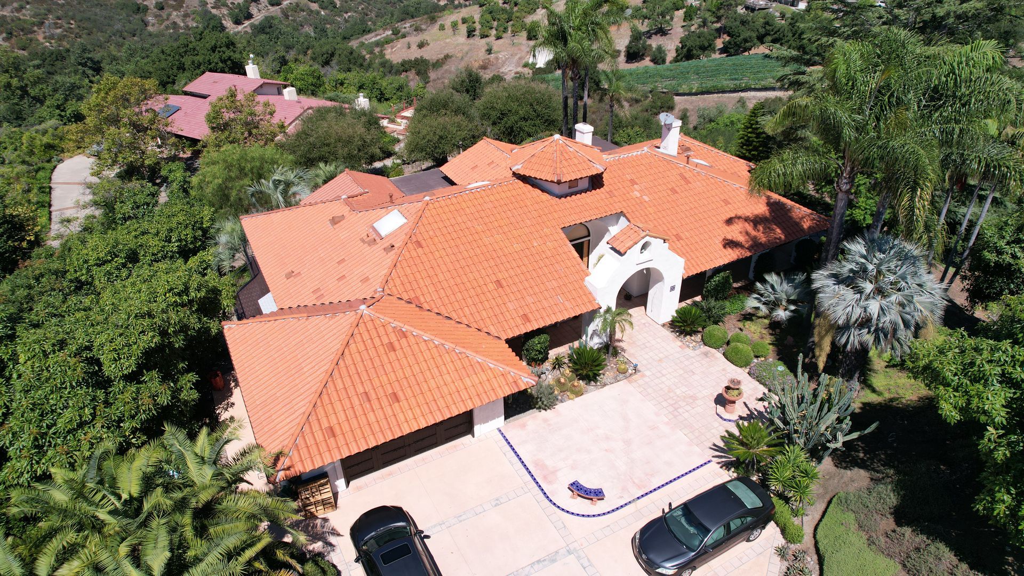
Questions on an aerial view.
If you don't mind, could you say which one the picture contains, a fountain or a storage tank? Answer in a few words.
fountain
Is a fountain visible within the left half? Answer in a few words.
No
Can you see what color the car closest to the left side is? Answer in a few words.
black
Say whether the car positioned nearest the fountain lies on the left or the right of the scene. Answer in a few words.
right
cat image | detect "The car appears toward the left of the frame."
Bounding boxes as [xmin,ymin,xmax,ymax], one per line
[353,504,437,576]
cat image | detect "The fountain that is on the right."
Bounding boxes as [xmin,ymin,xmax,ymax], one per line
[715,378,746,423]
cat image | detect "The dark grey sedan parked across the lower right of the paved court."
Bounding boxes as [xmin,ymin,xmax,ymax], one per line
[633,478,774,576]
